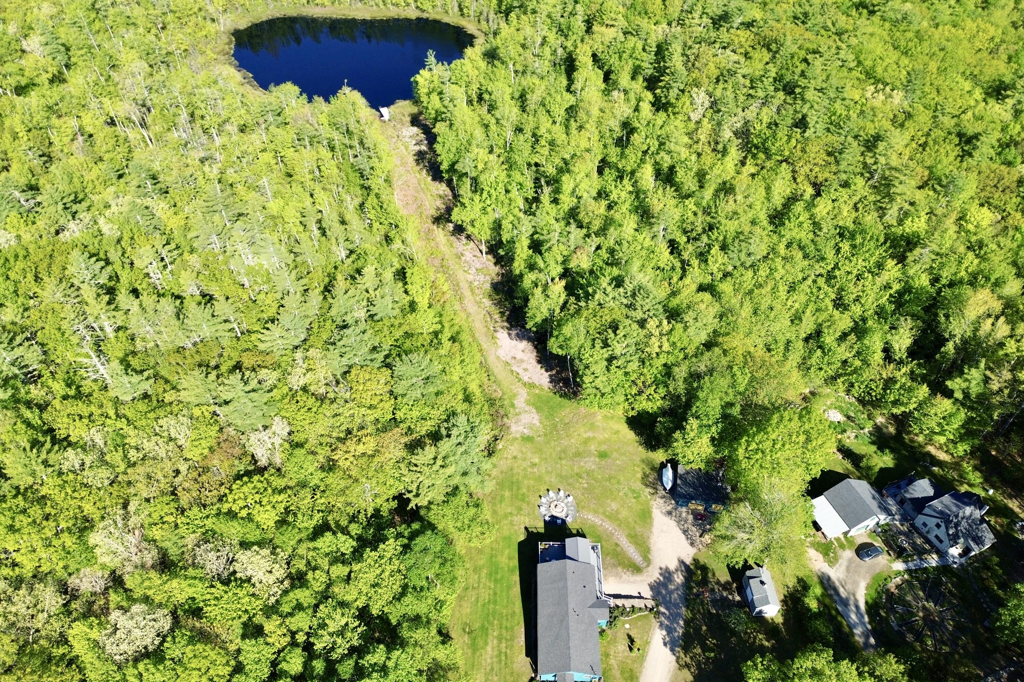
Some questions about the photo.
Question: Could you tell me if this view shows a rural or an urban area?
rural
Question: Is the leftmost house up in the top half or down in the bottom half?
bottom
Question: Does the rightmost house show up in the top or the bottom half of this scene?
bottom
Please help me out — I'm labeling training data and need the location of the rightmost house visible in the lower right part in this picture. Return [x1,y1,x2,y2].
[882,471,998,570]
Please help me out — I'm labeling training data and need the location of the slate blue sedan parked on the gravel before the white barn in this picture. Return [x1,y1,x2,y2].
[858,544,886,562]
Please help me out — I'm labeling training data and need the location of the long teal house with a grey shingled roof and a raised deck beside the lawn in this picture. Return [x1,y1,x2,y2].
[537,537,614,682]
